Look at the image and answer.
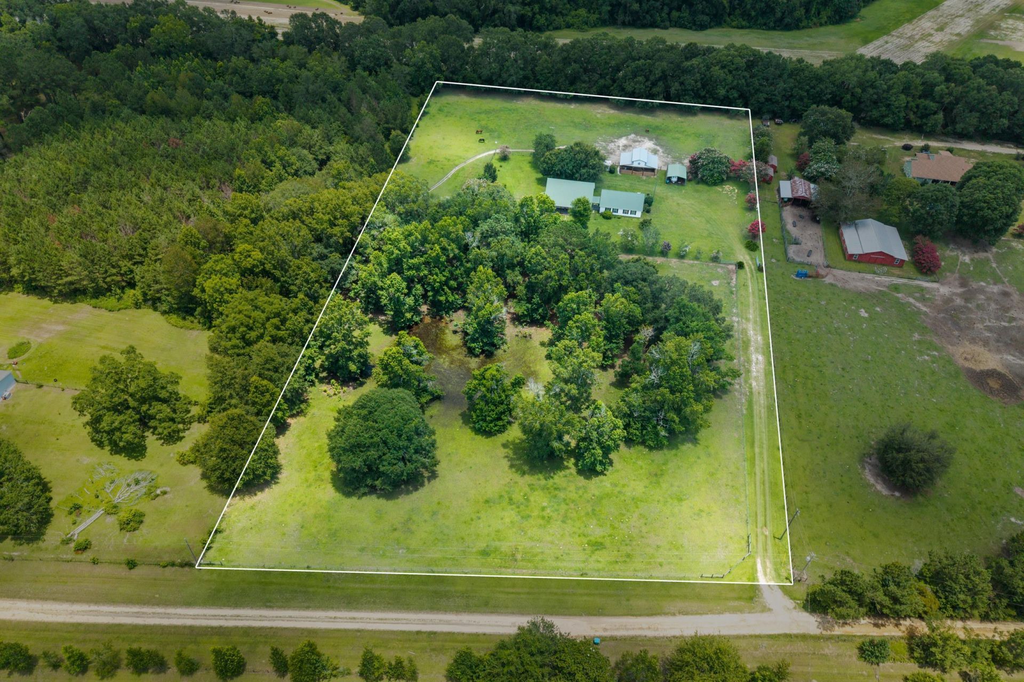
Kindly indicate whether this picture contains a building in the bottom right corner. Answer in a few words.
No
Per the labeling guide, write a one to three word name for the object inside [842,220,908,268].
barn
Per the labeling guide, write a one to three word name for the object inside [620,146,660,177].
barn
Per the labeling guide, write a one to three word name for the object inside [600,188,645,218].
house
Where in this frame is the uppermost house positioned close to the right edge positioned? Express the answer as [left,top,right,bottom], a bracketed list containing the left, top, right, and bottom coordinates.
[903,142,974,189]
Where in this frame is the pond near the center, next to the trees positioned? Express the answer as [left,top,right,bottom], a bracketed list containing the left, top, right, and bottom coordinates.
[416,318,484,371]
